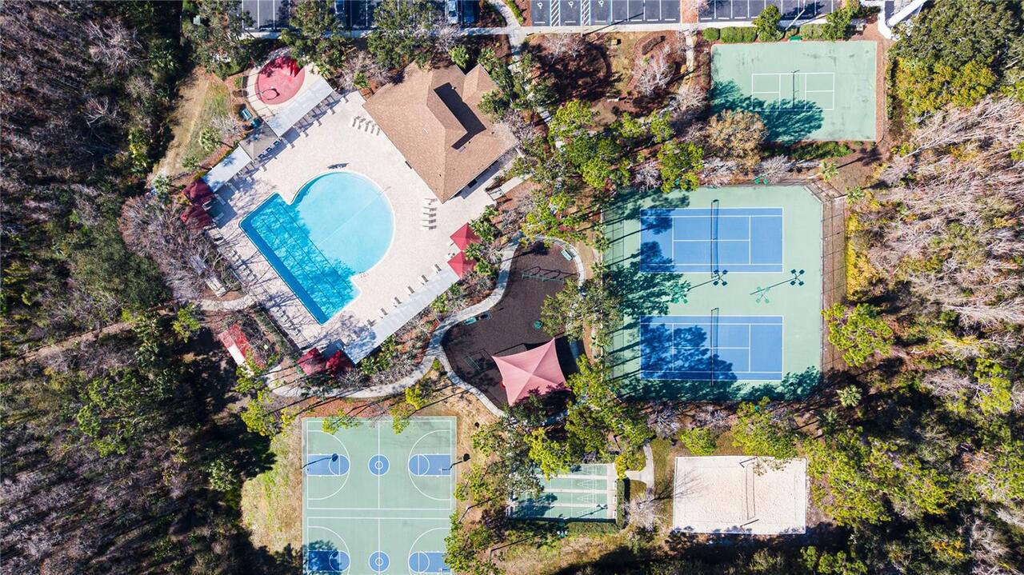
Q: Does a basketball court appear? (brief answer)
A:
Yes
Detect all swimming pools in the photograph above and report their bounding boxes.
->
[239,170,395,326]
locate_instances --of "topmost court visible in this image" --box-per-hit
[711,41,877,143]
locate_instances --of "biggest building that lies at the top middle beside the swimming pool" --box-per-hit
[363,45,517,203]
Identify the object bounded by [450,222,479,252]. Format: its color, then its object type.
red umbrella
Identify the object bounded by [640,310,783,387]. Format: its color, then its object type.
blue tennis court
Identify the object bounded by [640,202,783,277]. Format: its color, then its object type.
blue tennis court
